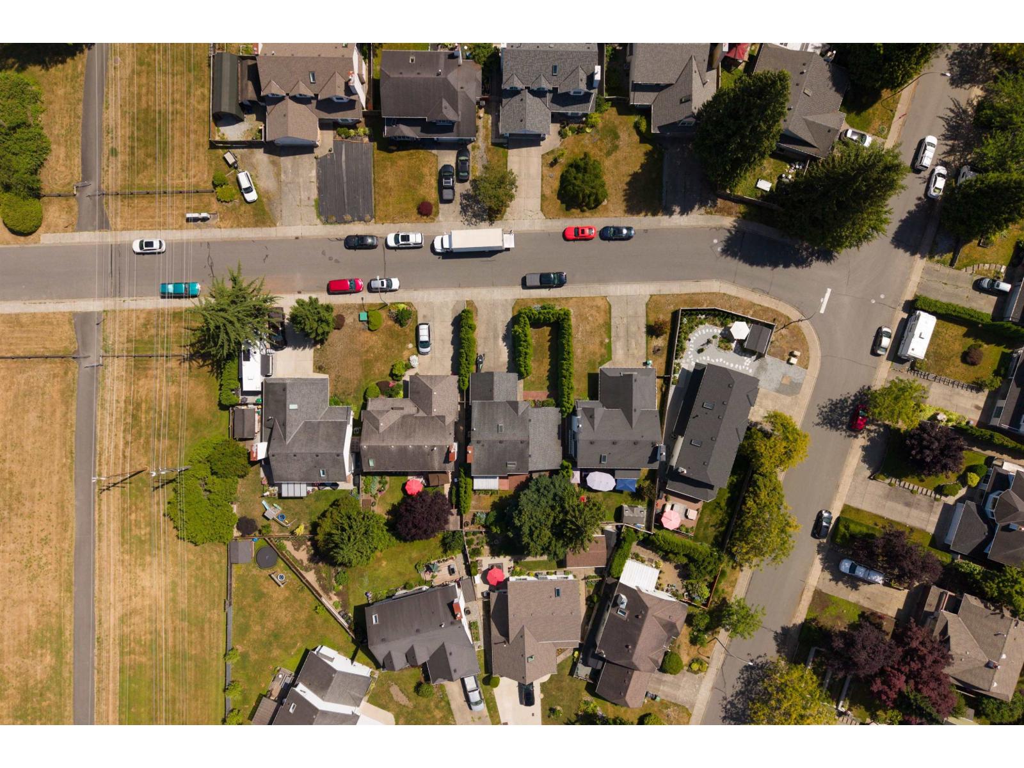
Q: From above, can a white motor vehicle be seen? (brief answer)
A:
Yes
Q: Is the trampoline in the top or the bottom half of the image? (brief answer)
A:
bottom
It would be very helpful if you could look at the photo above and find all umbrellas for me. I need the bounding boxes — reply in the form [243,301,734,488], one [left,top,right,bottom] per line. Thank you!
[487,567,504,585]
[661,508,681,528]
[729,322,749,339]
[405,478,422,494]
[587,472,615,491]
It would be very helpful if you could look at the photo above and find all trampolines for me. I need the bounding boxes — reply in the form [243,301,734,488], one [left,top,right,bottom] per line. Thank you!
[254,547,274,569]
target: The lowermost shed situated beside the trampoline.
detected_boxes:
[231,538,258,565]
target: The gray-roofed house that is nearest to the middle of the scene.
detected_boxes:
[466,372,564,477]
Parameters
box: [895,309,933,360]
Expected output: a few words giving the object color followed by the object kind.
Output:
white camper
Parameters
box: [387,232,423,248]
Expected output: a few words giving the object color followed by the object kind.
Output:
white car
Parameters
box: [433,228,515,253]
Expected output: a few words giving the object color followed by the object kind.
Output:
white truck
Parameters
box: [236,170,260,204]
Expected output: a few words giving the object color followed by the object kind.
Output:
white car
